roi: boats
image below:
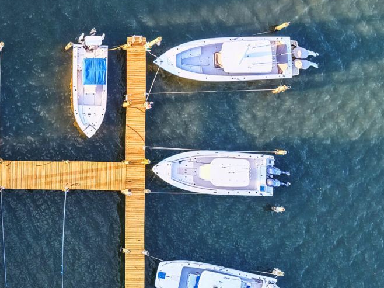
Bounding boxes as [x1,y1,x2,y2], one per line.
[71,25,108,138]
[154,149,295,198]
[155,260,278,288]
[154,37,324,82]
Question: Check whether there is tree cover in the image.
No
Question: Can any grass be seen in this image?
No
